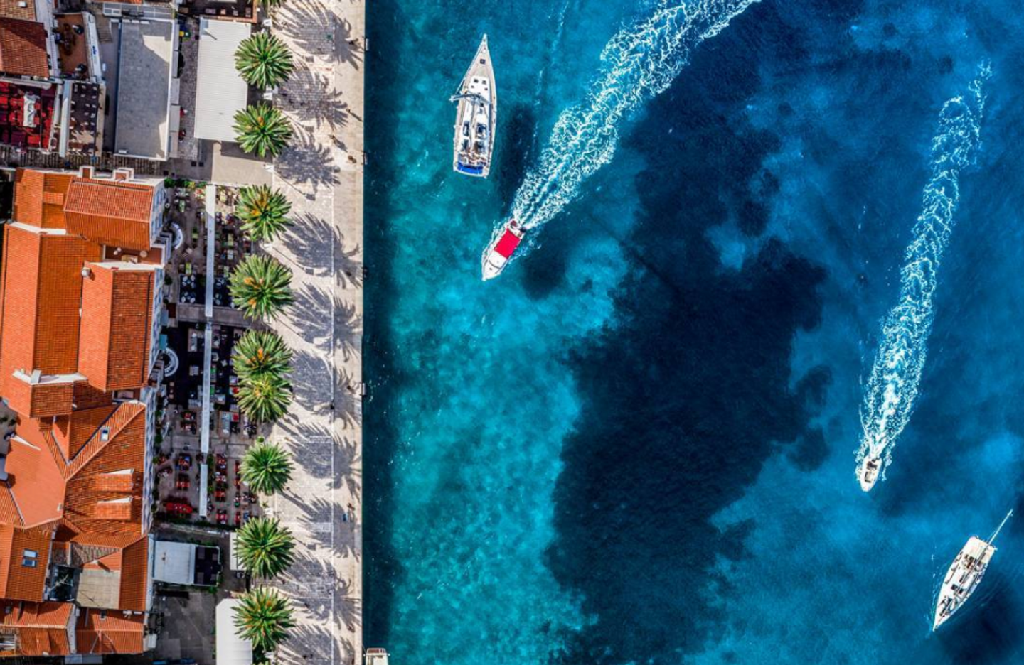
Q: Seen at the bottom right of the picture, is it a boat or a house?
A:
boat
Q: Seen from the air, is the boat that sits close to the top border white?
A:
Yes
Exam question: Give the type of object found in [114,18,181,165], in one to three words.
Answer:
building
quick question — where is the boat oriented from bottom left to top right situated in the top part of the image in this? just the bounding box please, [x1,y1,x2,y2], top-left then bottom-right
[484,220,526,280]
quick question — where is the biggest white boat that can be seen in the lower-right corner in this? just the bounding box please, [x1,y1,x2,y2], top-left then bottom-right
[930,503,1006,631]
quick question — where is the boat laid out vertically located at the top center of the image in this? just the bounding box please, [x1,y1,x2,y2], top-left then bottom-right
[450,31,498,180]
